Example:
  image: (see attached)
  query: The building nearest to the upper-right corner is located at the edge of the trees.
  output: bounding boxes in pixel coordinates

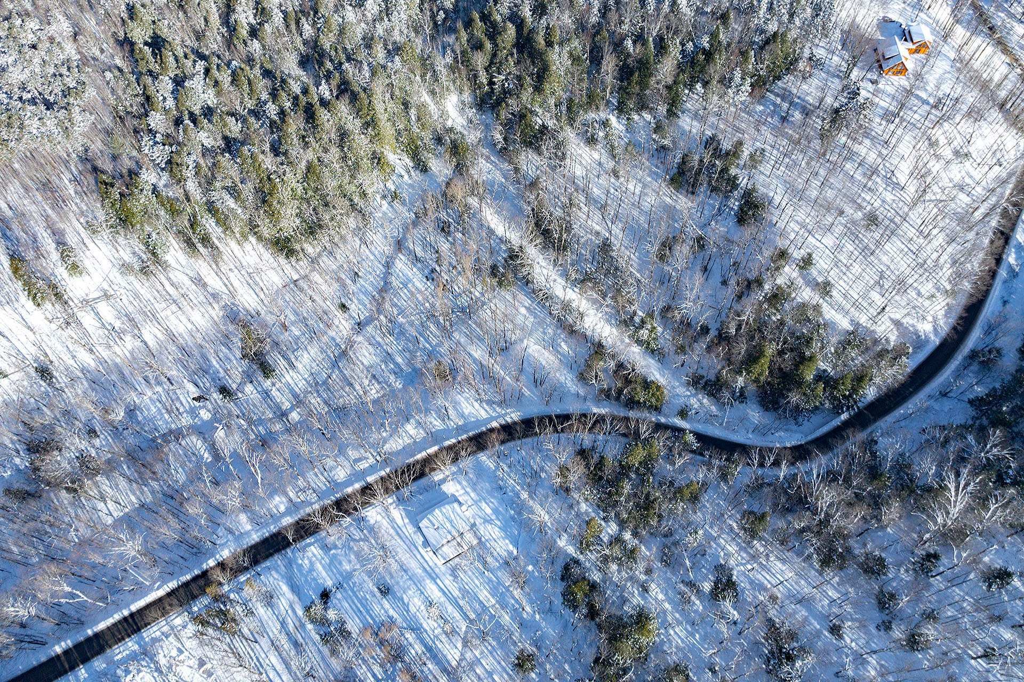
[894,22,935,56]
